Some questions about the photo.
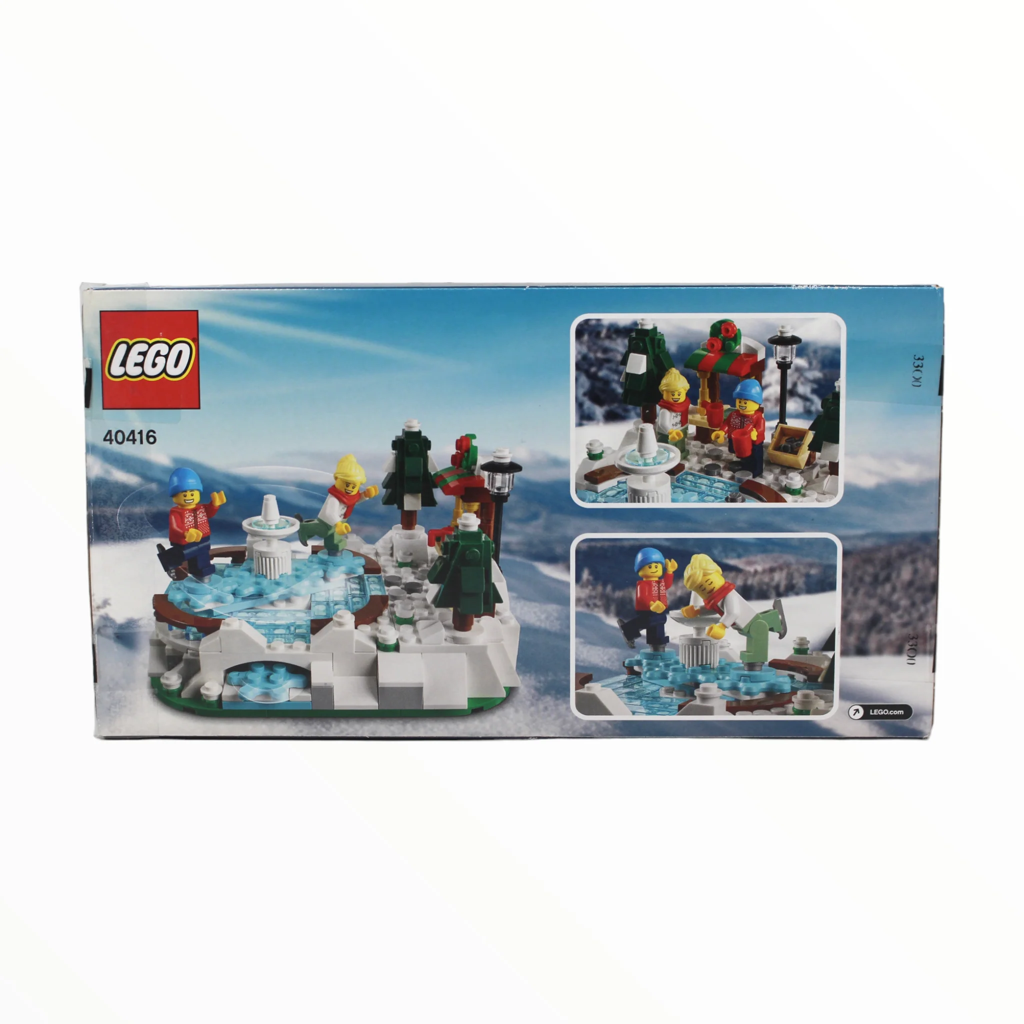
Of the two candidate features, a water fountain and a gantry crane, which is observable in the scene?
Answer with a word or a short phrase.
water fountain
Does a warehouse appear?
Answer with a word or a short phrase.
No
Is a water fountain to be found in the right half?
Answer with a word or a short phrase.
Yes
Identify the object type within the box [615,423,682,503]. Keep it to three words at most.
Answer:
fountain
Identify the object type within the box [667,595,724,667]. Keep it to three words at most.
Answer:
fountain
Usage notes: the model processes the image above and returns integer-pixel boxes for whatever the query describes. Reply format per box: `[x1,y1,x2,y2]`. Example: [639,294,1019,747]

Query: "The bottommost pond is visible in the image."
[606,649,833,716]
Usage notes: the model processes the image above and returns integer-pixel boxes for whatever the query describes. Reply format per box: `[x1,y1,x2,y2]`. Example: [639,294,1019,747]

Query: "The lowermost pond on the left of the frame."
[165,546,386,709]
